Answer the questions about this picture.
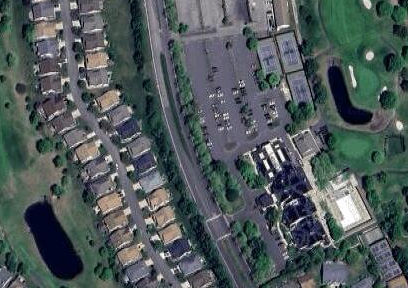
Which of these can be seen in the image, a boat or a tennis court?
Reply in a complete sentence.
The image shows a tennis court.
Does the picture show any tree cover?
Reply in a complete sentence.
Yes, there is tree cover in the image.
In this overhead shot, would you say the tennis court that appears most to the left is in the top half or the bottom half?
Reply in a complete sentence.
The tennis court that appears most to the left is in the top half of the image.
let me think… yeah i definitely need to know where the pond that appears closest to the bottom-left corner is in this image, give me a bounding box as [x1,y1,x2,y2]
[25,200,83,279]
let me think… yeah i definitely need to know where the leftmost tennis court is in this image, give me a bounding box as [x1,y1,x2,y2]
[257,35,283,73]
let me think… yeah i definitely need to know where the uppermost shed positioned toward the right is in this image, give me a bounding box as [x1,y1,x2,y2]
[274,0,288,28]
